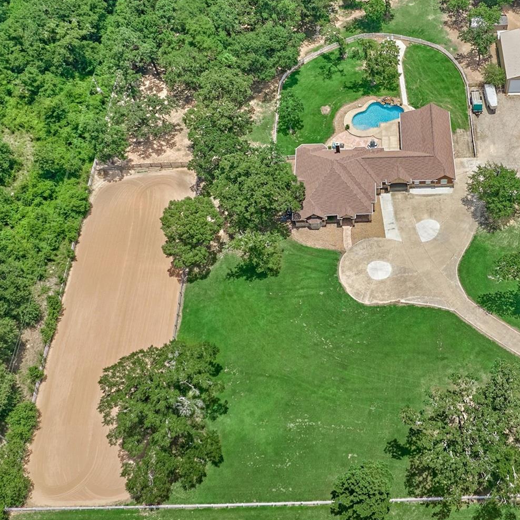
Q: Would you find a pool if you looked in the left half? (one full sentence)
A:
No, no pool is visible in the left half.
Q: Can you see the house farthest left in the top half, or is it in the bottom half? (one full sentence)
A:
The house farthest left is in the top half of the image.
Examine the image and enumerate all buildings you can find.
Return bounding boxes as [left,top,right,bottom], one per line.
[486,7,511,27]
[500,28,520,97]
[289,104,456,231]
